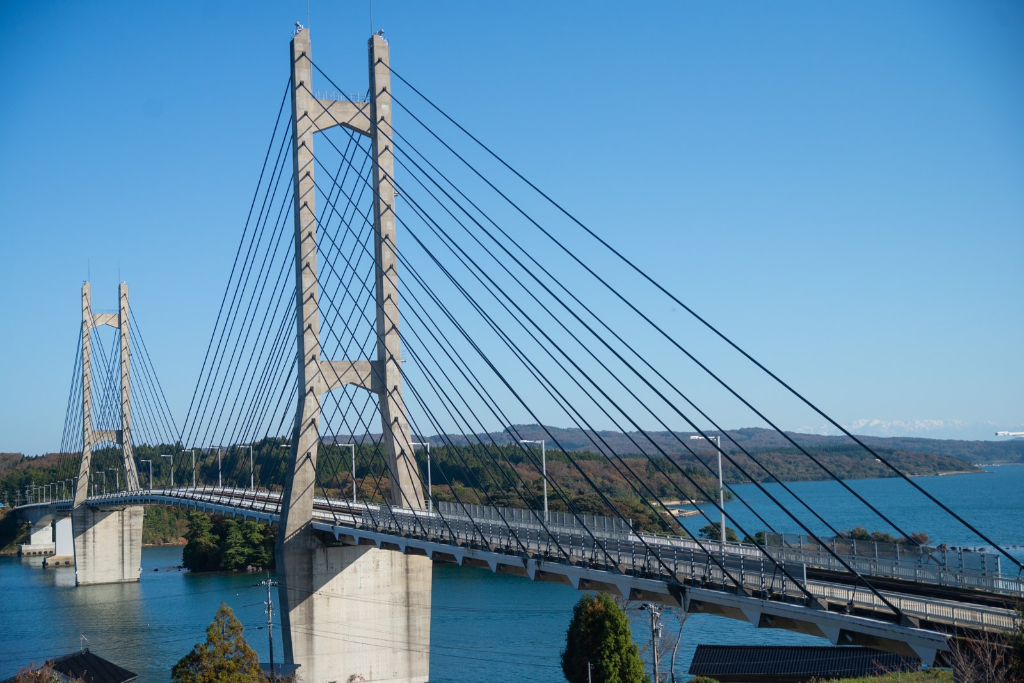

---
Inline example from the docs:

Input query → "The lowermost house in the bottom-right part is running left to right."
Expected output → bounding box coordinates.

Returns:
[681,641,929,683]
